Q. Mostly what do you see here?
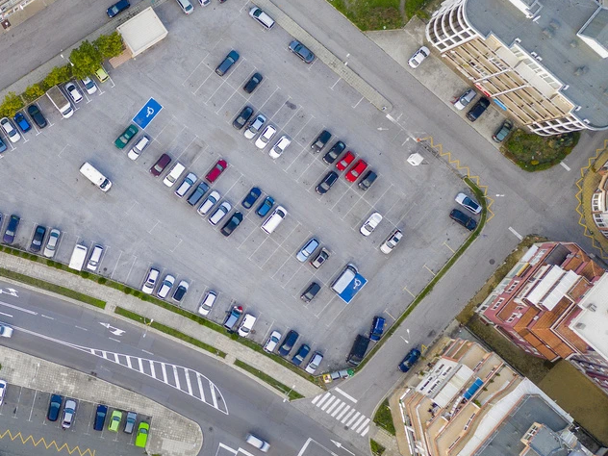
paved ground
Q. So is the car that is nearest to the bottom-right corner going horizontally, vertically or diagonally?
diagonally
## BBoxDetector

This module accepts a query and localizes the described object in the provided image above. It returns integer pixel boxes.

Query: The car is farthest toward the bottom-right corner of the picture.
[396,347,421,374]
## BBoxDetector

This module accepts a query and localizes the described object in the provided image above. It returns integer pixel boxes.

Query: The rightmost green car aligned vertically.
[134,421,149,447]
